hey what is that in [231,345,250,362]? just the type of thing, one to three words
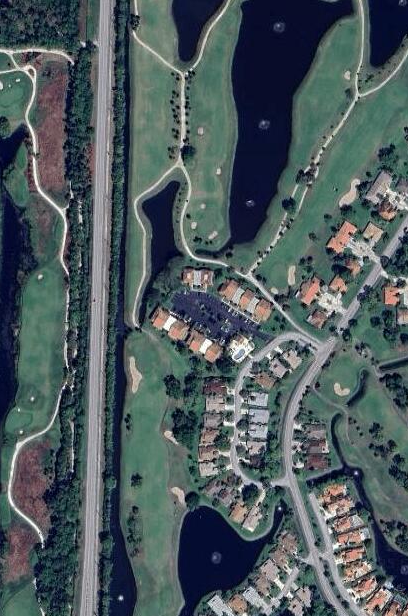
swimming pool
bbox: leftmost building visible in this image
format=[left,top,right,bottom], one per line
[151,307,189,337]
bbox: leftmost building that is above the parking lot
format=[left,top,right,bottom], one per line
[183,268,214,286]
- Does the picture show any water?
Yes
